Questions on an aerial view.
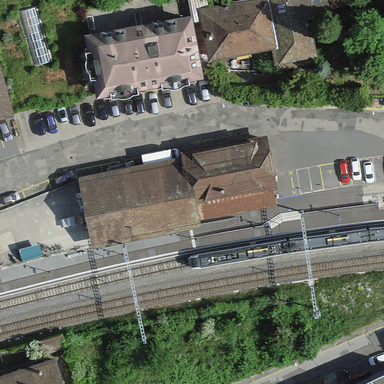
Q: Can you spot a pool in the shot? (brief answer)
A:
No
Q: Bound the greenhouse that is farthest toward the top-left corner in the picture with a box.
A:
[20,6,53,66]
